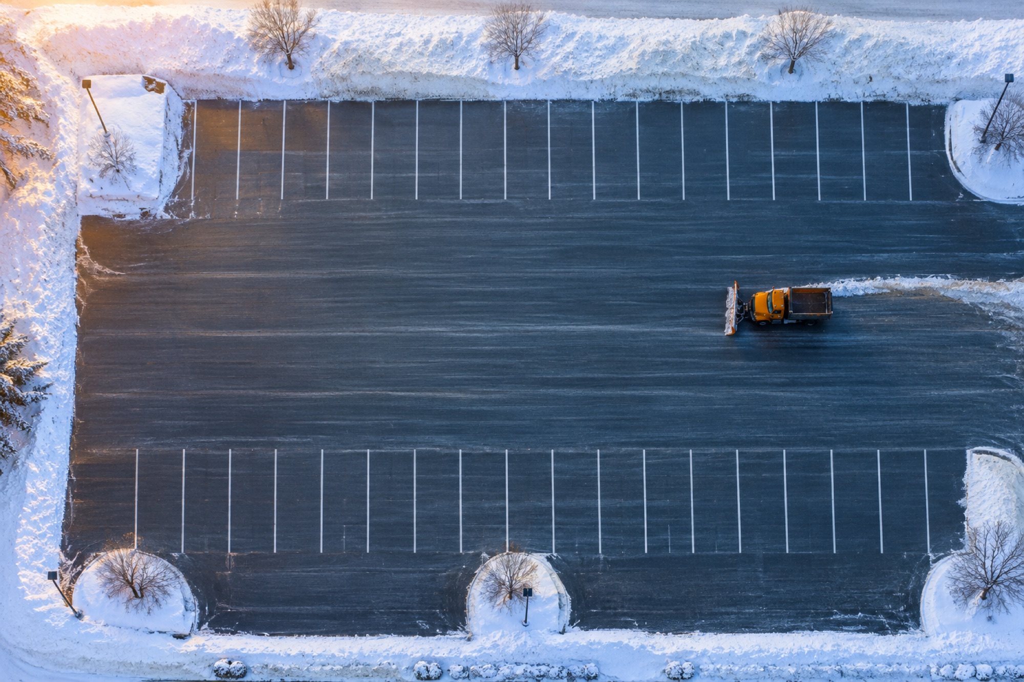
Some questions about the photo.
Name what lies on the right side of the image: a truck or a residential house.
truck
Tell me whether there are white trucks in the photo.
No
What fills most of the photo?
paved ground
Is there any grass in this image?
No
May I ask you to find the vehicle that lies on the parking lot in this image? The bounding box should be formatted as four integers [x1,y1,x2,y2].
[731,280,833,338]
